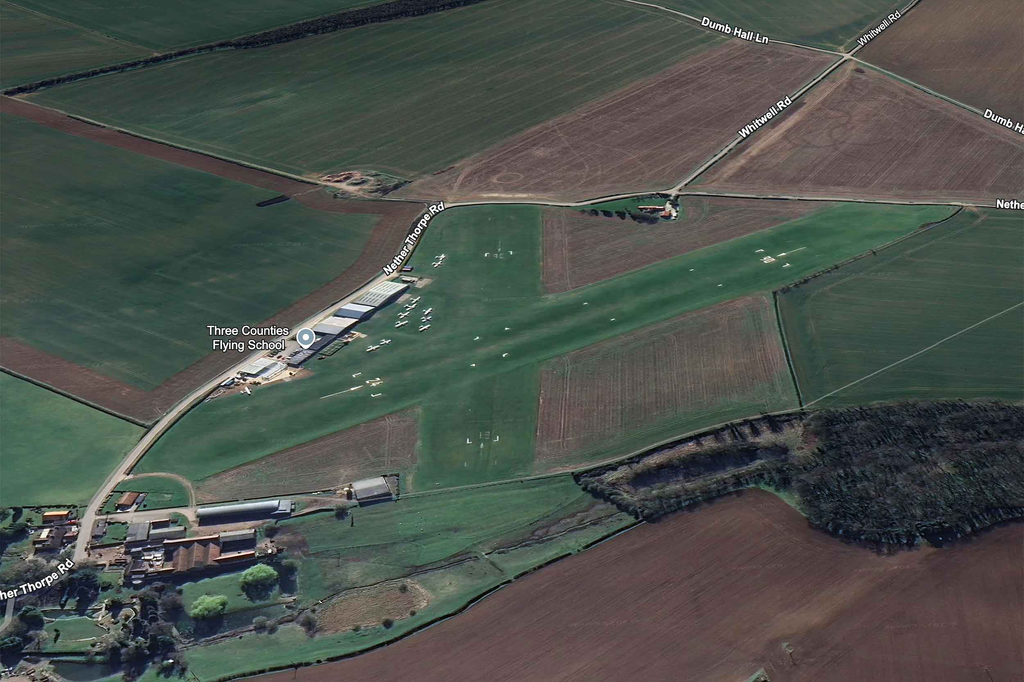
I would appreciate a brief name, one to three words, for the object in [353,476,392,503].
barn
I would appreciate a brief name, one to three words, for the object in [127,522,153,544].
barn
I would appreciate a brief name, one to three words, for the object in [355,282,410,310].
hangar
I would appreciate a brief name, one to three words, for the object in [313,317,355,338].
hangar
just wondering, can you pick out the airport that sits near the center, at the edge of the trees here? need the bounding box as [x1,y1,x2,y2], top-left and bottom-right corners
[132,196,960,502]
